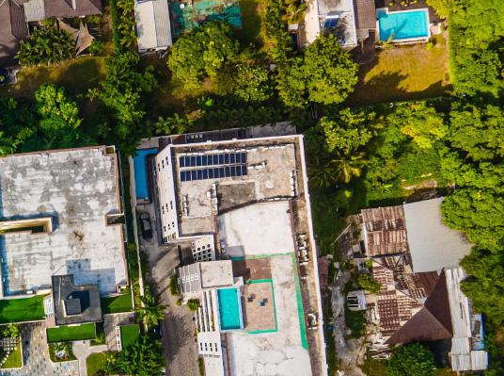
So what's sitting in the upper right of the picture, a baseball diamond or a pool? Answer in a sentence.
The one visible in the upper right of the picture is a pool.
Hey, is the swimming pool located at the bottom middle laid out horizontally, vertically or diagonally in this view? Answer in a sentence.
From this overhead view, the swimming pool located at the bottom middle appears to run vertically.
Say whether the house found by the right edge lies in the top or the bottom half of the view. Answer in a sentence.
Seen from above, the house found by the right edge lies in the bottom half of the view.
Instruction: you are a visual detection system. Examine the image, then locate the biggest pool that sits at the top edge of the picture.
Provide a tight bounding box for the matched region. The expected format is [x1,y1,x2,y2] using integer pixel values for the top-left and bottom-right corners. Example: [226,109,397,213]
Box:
[379,8,431,41]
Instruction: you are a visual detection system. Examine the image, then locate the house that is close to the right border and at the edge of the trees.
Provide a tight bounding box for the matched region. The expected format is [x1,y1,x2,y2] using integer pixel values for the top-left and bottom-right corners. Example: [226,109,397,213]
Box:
[356,197,489,370]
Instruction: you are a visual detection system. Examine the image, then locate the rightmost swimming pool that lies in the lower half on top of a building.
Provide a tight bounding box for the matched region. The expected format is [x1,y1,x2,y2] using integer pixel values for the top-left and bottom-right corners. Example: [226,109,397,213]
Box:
[219,289,240,329]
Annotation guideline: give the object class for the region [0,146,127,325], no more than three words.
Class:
building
